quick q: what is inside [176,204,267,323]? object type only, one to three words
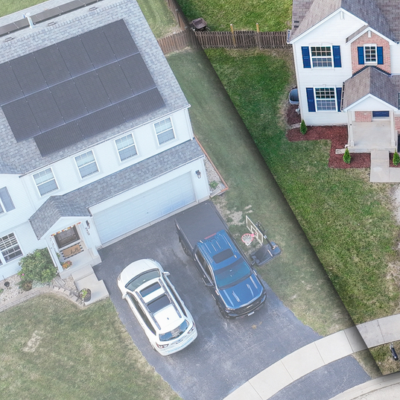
truck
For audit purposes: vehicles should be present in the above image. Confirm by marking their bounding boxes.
[125,257,198,360]
[176,204,267,323]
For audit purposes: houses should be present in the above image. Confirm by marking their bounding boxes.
[289,0,400,166]
[0,0,225,302]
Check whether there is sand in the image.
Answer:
No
